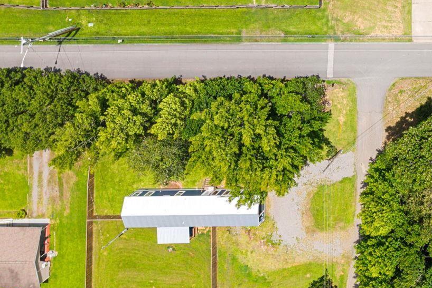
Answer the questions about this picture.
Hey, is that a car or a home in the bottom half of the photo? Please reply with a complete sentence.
You can see a home in the bottom half of the photo.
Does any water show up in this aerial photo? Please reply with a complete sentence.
No, the picture contains no water.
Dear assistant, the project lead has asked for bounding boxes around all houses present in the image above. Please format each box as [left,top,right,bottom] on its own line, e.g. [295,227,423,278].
[124,187,270,228]
[0,227,44,288]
